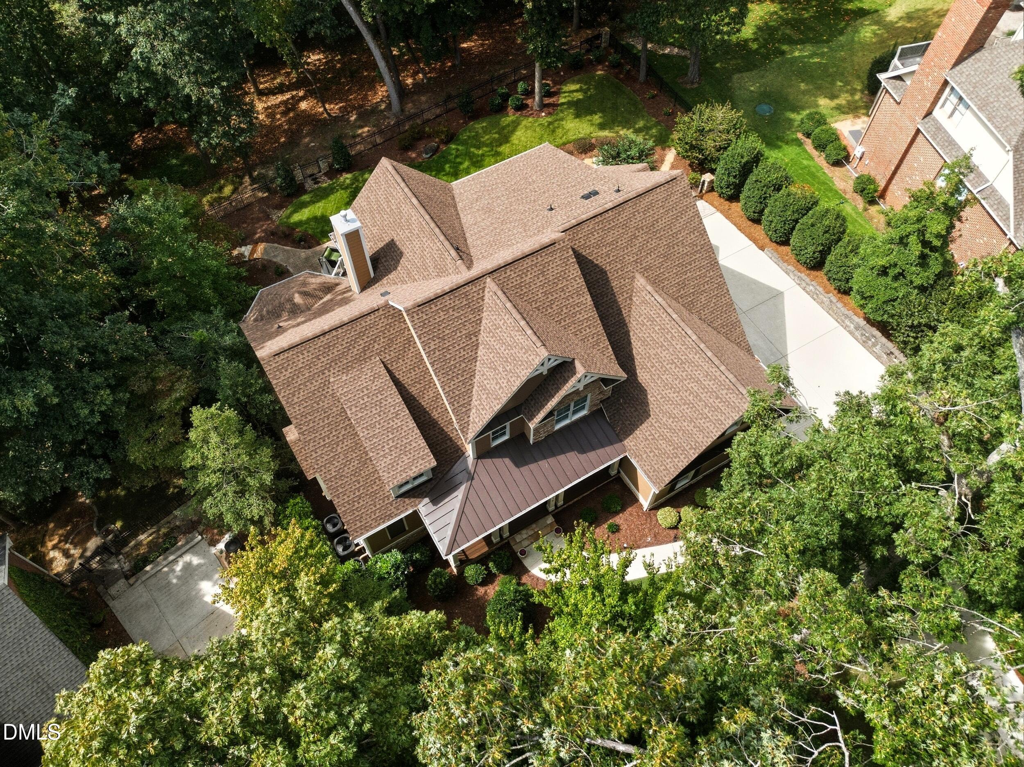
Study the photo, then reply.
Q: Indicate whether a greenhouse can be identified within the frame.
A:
No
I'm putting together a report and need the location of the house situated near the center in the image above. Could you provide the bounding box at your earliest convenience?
[242,140,805,574]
